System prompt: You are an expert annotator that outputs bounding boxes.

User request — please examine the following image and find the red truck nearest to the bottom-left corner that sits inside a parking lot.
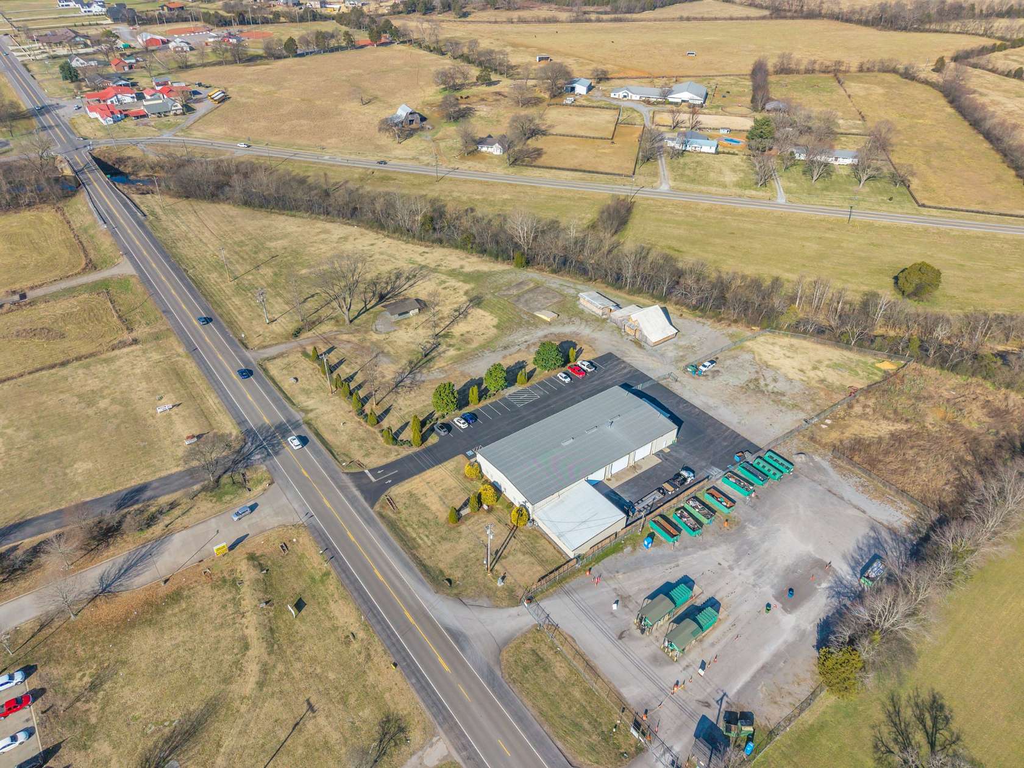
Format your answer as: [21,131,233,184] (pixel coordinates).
[0,691,33,720]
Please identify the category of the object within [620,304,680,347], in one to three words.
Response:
barn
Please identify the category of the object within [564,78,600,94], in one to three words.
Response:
shed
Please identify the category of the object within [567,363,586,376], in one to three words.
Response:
vehicle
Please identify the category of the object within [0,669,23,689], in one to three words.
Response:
car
